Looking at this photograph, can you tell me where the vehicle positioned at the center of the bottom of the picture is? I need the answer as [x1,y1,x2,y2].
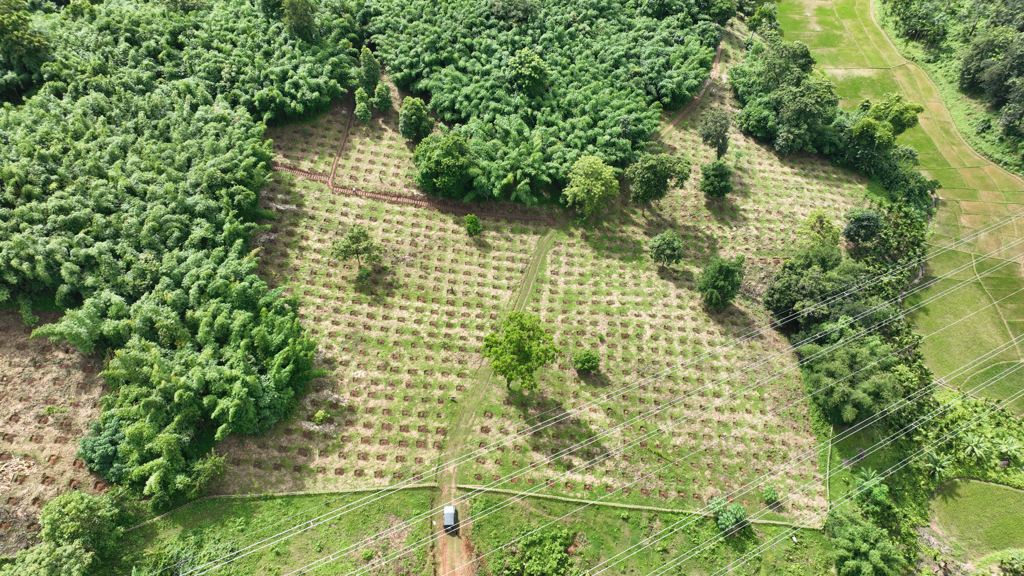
[443,507,457,533]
